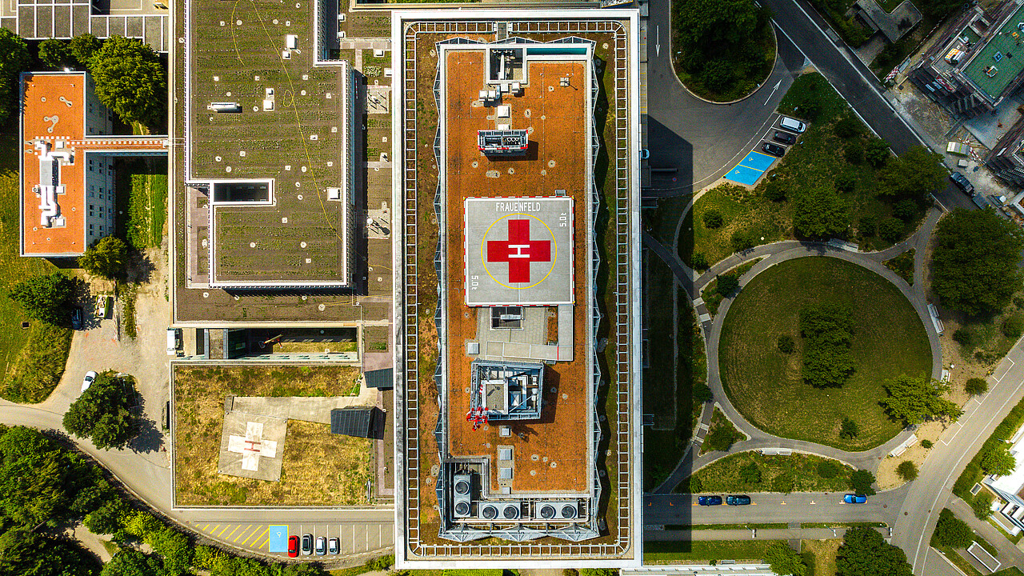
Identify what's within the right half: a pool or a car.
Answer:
car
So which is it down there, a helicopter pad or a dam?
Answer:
helicopter pad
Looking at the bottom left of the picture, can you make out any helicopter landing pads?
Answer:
Yes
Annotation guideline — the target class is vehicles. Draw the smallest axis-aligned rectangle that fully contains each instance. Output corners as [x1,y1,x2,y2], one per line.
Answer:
[81,370,98,392]
[328,536,338,554]
[780,116,806,133]
[72,308,84,330]
[698,495,722,506]
[288,535,299,556]
[725,494,750,506]
[772,130,795,145]
[843,493,867,504]
[165,329,178,357]
[951,173,975,195]
[761,142,784,157]
[315,536,325,555]
[301,533,312,555]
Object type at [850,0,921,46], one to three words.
house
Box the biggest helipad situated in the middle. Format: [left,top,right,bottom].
[464,190,576,364]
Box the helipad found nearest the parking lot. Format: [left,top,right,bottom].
[219,411,287,481]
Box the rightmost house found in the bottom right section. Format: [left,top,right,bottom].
[973,418,1024,541]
